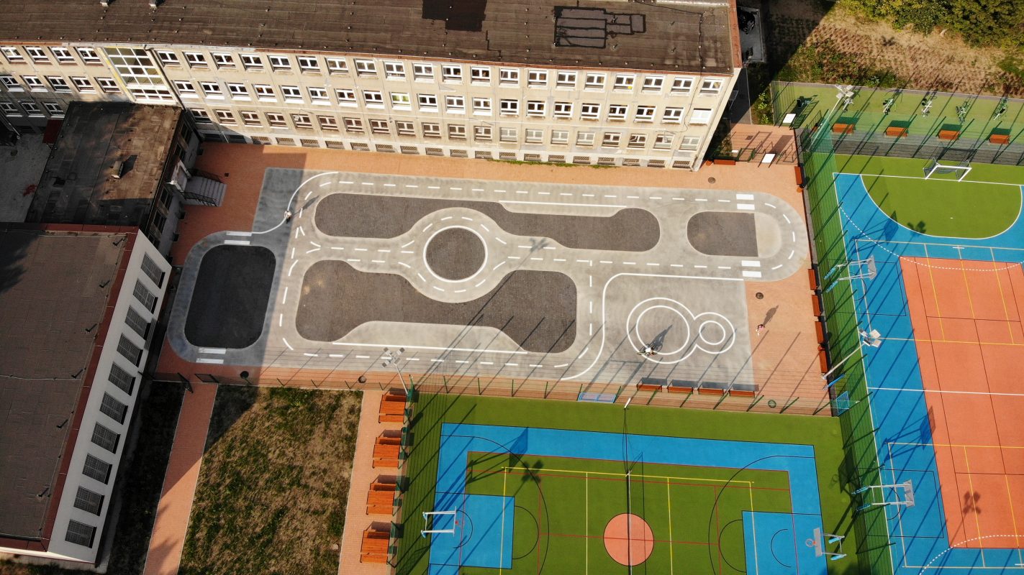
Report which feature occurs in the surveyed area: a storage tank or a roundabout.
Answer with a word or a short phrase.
roundabout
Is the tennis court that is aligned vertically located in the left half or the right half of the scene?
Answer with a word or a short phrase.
right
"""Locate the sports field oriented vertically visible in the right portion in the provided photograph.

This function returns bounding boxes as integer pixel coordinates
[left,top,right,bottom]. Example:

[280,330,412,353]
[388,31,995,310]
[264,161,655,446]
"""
[806,153,1024,575]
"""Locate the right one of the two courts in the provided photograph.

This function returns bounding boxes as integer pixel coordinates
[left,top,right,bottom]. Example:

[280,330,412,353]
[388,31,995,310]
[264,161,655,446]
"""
[900,257,1024,551]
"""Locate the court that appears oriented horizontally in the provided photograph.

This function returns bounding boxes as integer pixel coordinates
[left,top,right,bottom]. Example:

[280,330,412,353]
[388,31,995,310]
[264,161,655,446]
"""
[395,394,871,575]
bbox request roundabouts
[409,213,503,298]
